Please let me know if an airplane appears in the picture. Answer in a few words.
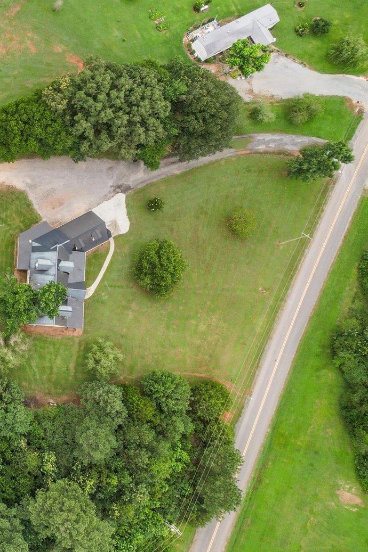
No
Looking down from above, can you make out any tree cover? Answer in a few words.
Yes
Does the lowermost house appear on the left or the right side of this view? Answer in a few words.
left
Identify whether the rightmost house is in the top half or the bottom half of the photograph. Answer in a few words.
top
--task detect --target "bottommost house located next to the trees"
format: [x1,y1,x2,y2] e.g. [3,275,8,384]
[16,210,112,328]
